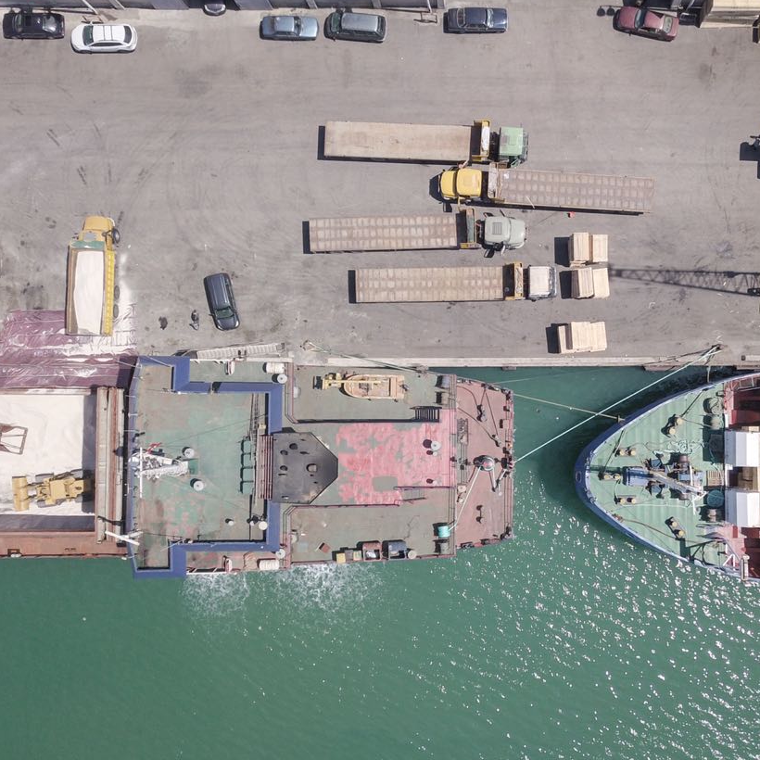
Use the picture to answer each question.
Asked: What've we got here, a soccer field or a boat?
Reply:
boat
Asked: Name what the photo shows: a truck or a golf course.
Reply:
truck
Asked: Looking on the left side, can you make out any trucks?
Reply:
Yes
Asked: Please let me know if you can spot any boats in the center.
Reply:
Yes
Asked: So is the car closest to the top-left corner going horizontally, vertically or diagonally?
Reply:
horizontally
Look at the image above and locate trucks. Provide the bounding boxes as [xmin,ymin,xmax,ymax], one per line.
[324,120,529,168]
[440,161,657,213]
[355,260,558,305]
[65,217,120,336]
[308,209,526,256]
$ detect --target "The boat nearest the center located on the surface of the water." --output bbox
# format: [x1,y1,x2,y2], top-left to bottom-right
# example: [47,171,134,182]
[341,373,407,399]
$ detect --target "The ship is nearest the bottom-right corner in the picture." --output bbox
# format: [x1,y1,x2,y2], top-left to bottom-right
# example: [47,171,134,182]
[578,372,760,583]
